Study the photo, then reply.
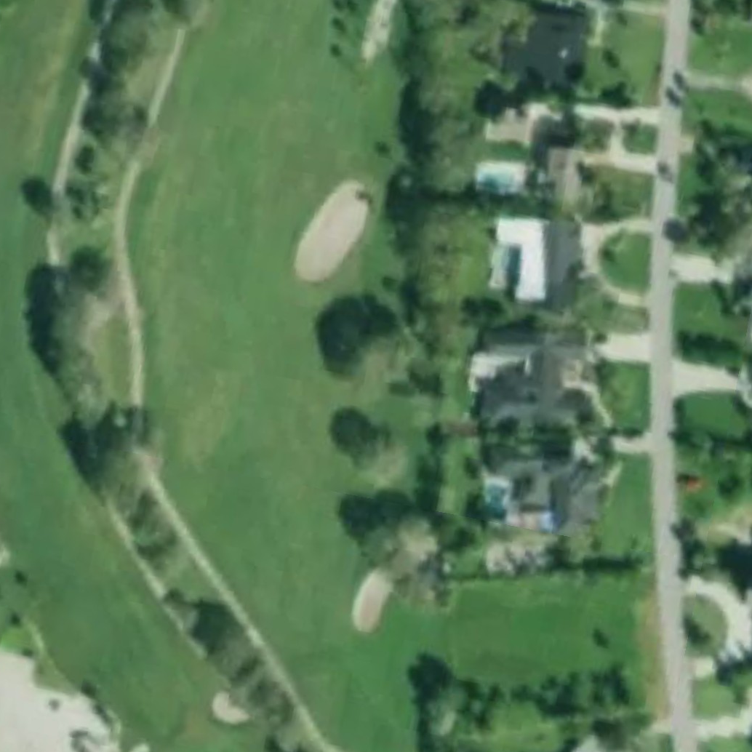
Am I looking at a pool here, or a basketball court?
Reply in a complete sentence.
It is a pool that can be seen here.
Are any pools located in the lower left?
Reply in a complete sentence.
No, the scene shows no pool in the lower left.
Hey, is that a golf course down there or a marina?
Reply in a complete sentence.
This image shows a golf course.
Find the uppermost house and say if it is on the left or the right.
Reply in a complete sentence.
The uppermost house sits on the right side.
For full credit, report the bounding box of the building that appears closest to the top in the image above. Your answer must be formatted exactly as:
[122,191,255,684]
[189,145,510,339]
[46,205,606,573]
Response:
[502,8,588,84]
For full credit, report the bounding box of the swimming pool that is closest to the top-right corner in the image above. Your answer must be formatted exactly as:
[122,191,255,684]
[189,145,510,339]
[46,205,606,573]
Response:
[476,164,527,195]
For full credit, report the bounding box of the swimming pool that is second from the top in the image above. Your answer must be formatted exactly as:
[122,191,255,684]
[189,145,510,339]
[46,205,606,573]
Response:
[491,245,521,290]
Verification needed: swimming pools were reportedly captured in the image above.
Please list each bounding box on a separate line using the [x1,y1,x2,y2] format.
[485,478,510,523]
[491,245,521,290]
[476,164,527,195]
